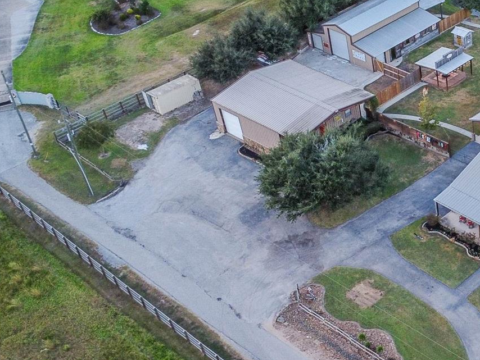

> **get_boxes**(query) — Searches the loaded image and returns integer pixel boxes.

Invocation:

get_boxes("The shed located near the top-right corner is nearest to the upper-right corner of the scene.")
[452,26,473,48]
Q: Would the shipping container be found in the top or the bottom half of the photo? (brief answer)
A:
top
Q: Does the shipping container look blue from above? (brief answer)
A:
No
